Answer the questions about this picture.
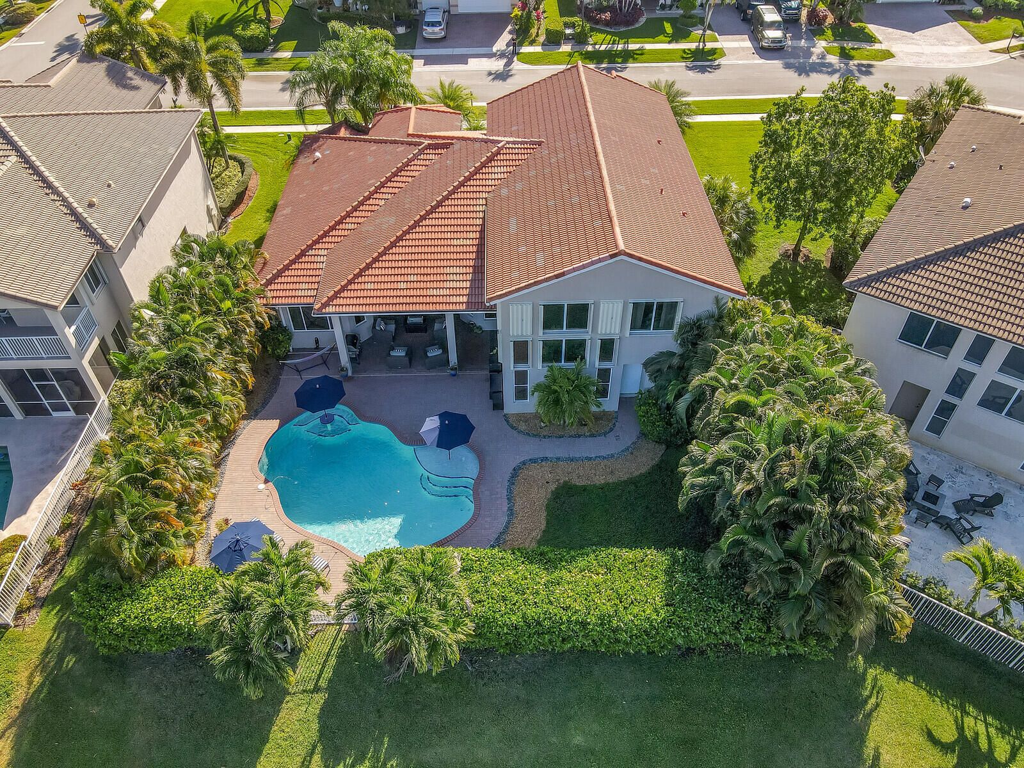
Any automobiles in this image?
Yes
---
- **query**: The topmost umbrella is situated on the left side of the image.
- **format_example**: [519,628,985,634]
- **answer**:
[290,369,345,414]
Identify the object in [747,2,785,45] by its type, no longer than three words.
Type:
car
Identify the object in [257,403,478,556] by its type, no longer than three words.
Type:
swimming pool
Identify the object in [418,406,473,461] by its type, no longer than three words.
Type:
umbrella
